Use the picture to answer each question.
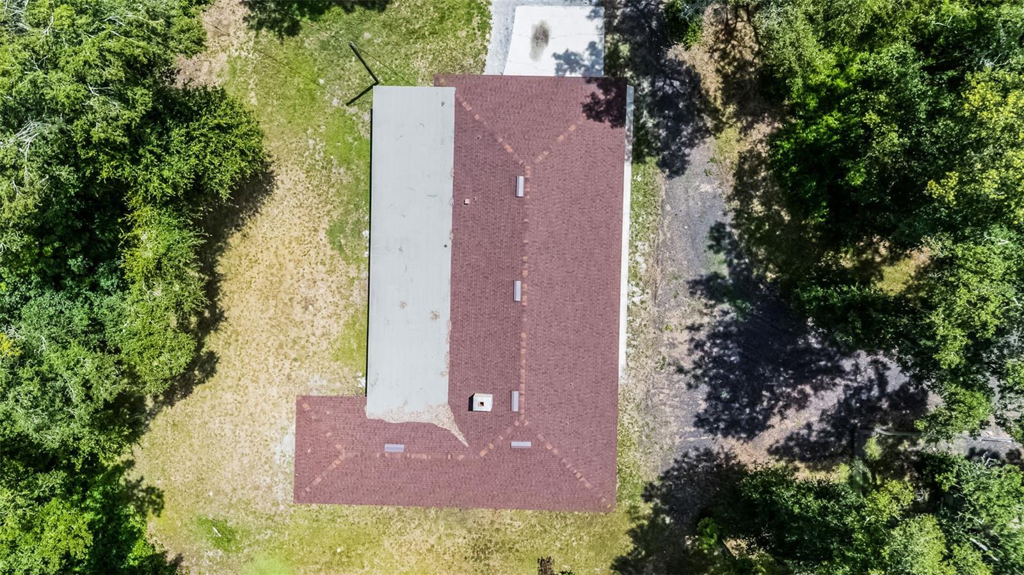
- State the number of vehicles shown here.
0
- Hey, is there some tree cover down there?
Yes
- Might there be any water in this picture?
No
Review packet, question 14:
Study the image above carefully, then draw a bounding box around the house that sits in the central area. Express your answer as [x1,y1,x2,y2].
[292,72,627,513]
